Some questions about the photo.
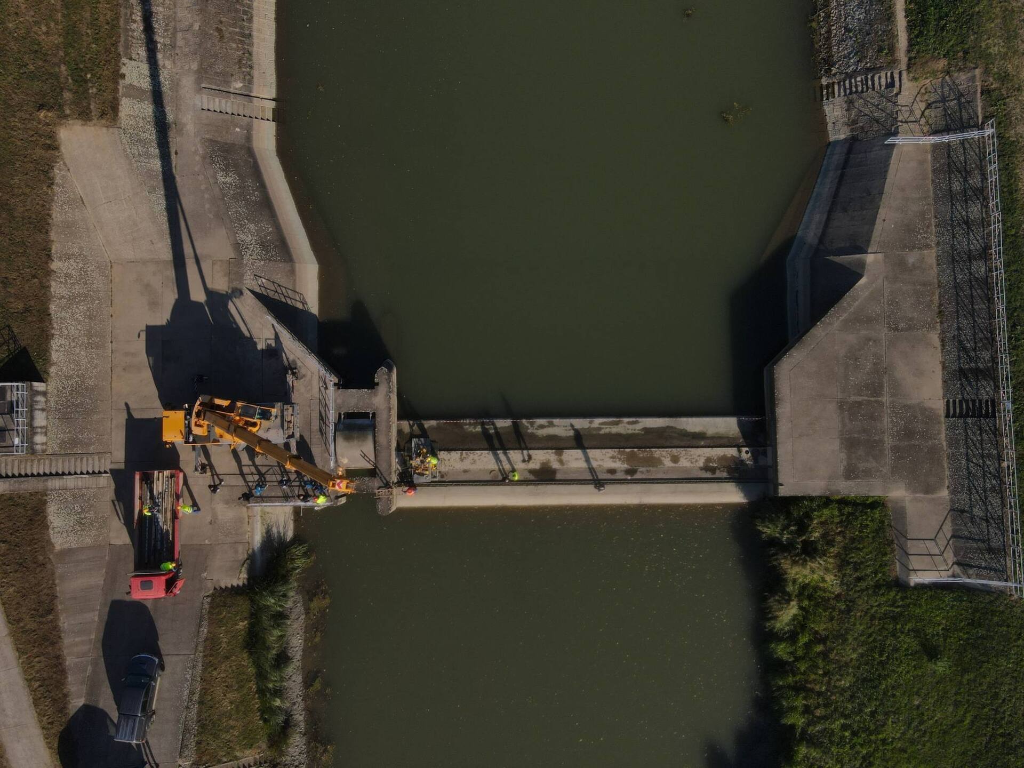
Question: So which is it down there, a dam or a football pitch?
dam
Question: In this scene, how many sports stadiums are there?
0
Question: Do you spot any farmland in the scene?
No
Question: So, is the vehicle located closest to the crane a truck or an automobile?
truck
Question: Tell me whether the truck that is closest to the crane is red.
Yes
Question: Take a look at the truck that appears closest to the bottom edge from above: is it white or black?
black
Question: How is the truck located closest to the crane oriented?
from top to bottom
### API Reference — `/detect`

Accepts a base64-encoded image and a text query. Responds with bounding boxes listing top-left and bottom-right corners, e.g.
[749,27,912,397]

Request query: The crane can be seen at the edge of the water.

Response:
[162,365,355,496]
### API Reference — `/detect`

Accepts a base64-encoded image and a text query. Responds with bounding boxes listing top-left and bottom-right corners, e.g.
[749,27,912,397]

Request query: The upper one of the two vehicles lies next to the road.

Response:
[126,469,193,597]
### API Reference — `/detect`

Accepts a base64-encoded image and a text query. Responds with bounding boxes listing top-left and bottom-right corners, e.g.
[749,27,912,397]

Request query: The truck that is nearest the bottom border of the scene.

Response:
[113,647,166,745]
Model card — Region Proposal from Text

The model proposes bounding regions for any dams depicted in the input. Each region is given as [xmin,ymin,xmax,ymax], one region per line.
[336,363,765,513]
